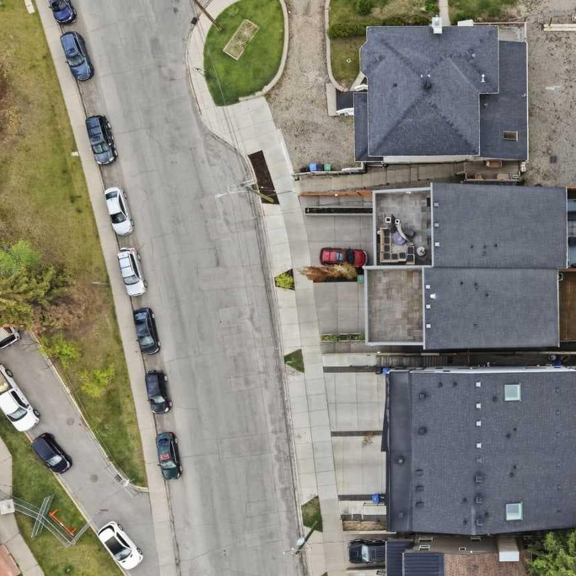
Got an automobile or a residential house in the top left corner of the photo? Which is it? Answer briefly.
automobile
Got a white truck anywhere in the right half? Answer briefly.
No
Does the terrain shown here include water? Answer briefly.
No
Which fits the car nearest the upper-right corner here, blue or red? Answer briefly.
red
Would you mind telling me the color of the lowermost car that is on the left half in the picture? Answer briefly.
white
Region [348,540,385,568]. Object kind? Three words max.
truck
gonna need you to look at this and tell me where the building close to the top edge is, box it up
[354,8,528,163]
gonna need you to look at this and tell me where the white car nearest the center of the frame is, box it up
[116,246,150,298]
